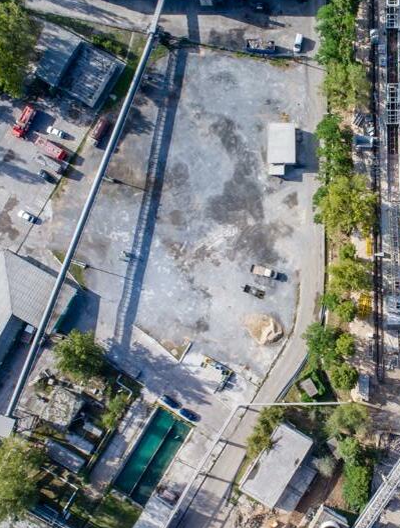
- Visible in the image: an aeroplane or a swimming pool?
swimming pool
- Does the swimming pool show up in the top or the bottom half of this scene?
bottom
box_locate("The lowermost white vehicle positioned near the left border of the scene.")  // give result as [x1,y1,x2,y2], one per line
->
[19,211,35,224]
